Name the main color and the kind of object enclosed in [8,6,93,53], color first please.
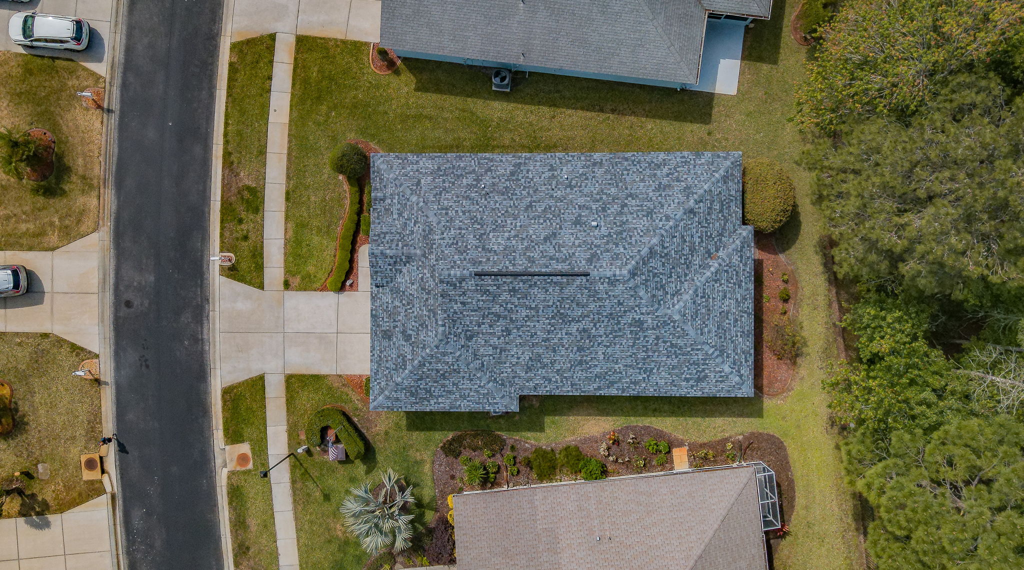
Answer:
white car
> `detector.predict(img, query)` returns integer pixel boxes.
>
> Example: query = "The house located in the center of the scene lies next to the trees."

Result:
[369,152,754,412]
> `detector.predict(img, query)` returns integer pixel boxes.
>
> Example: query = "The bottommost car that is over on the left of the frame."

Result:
[0,264,33,297]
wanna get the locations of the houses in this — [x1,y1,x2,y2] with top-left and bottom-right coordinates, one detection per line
[369,152,754,412]
[381,0,773,94]
[453,458,770,570]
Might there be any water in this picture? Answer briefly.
No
